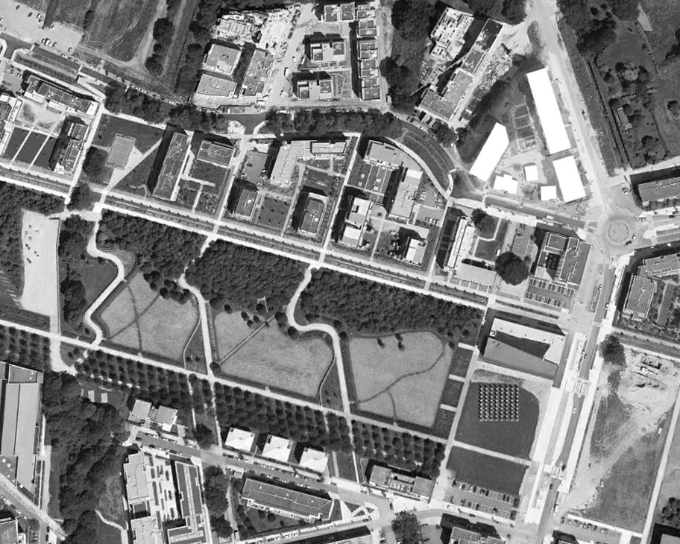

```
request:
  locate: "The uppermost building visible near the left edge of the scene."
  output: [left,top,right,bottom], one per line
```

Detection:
[23,75,99,116]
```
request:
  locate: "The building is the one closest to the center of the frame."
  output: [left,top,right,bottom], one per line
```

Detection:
[342,226,363,247]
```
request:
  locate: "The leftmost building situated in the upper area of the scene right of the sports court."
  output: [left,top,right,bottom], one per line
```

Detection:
[152,133,190,199]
